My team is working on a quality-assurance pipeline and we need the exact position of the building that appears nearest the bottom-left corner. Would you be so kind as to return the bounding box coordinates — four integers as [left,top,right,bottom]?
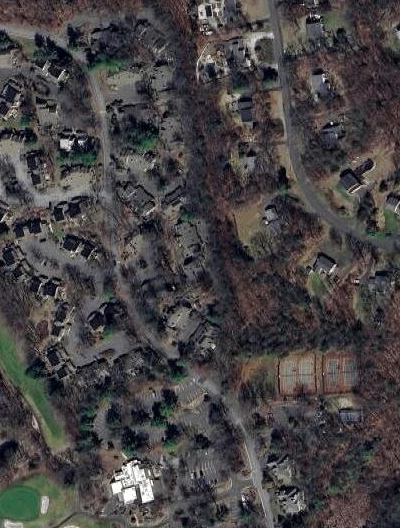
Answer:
[110,460,154,505]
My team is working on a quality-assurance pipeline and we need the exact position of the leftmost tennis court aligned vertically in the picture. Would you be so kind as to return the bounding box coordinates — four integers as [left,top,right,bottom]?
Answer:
[280,352,298,394]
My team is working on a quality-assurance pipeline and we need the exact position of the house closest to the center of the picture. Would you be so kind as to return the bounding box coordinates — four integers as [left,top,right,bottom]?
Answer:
[173,221,204,260]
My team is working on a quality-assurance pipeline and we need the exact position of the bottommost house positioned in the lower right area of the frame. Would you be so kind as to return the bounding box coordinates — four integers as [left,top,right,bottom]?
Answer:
[280,489,303,515]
